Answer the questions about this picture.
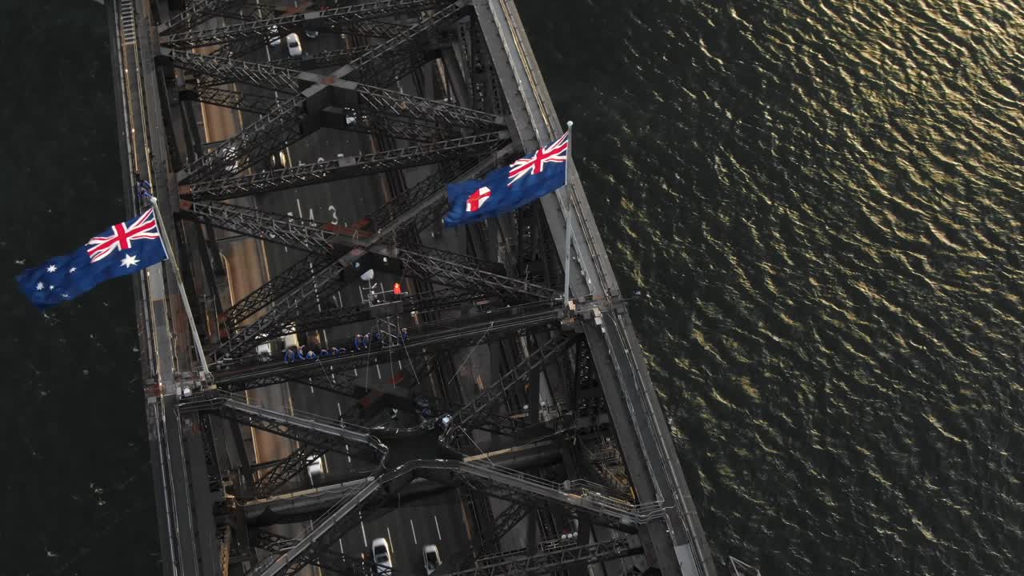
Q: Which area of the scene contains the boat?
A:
bottom right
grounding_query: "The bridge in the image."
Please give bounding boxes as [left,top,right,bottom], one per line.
[108,0,713,576]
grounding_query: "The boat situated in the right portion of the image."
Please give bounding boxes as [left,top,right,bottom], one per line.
[728,554,769,576]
